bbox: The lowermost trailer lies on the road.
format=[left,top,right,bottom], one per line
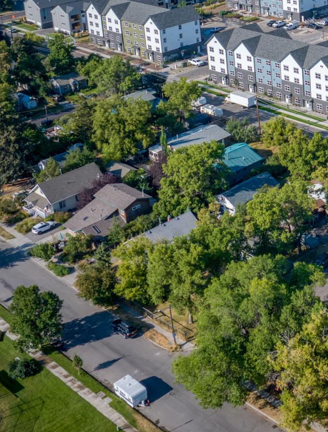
[111,370,150,414]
